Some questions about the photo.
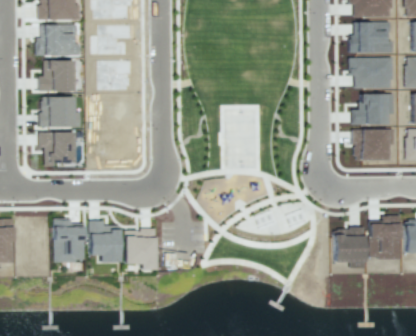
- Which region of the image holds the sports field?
top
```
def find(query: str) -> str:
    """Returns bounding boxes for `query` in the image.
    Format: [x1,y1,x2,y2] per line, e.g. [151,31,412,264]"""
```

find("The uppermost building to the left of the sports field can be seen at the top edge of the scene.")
[38,0,80,19]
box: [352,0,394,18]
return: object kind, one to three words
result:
house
